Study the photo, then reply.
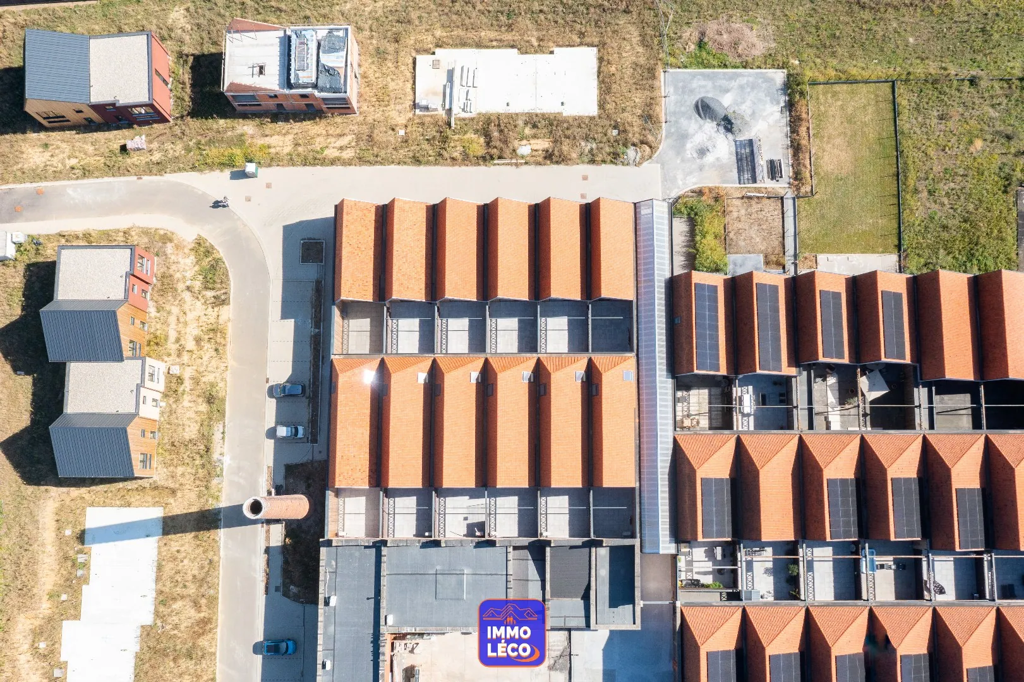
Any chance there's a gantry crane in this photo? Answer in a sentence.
No, the frame has no gantry crane in it.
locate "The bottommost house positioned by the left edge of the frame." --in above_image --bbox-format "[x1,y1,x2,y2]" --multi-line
[49,357,162,479]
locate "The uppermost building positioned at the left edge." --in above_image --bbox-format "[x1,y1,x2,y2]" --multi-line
[23,29,169,123]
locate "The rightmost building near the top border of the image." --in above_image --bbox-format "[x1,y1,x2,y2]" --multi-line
[222,17,357,111]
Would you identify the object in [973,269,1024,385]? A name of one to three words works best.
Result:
house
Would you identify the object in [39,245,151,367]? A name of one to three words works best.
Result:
house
